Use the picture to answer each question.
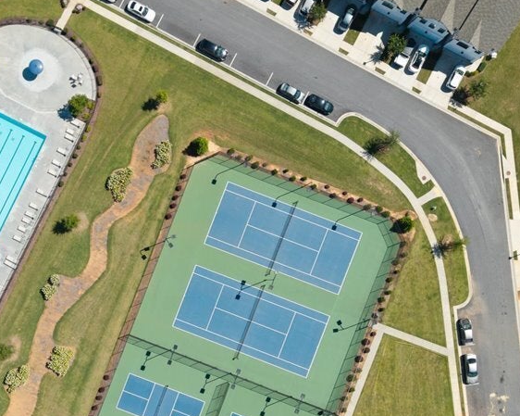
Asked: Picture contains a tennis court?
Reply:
Yes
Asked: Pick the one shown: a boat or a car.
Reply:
car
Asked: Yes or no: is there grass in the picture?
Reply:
Yes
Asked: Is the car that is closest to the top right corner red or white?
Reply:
white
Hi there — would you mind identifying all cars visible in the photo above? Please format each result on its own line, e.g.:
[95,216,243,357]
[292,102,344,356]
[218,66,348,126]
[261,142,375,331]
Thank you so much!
[126,1,155,23]
[276,81,305,104]
[407,43,430,74]
[462,353,478,383]
[445,62,467,92]
[196,39,227,62]
[303,93,333,116]
[457,316,473,346]
[299,0,317,17]
[337,3,358,34]
[284,0,299,10]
